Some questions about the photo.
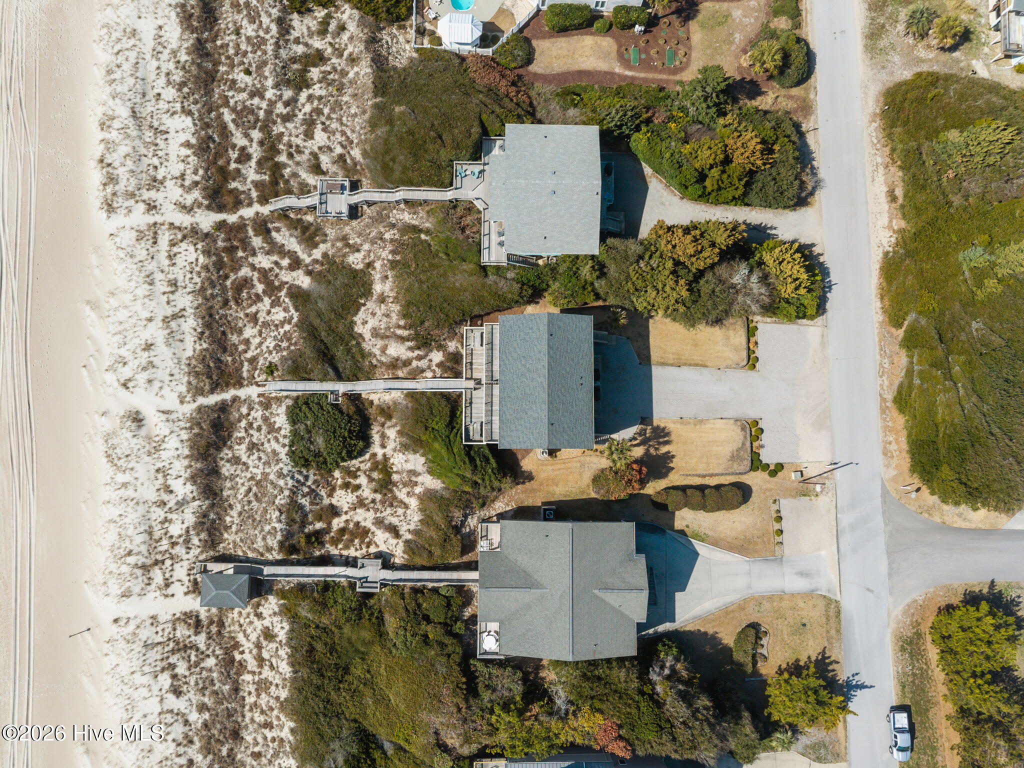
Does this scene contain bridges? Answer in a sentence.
No, this view has no bridge in it.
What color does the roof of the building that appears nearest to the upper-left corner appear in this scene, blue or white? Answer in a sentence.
The roof of the building that appears nearest to the upper-left corner is white.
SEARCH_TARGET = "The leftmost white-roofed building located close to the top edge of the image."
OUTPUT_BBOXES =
[438,12,482,55]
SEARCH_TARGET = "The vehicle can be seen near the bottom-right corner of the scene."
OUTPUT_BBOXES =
[886,709,913,760]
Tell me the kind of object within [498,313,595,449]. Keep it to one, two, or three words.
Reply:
house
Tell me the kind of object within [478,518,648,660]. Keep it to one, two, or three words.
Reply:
house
